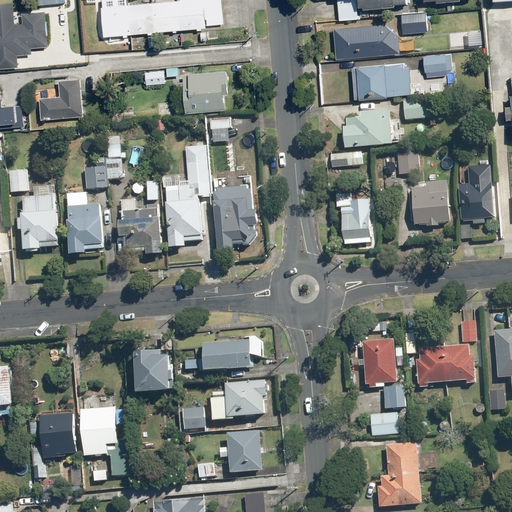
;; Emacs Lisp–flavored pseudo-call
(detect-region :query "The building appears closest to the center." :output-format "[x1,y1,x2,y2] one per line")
[213,187,258,250]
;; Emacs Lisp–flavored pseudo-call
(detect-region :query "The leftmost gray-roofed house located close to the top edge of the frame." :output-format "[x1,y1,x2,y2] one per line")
[0,4,48,71]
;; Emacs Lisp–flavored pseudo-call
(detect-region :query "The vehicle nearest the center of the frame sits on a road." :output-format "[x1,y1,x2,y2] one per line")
[283,266,298,278]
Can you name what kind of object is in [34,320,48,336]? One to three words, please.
vehicle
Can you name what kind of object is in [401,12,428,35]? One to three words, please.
shed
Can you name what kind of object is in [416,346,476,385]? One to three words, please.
house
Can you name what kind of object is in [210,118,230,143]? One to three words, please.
building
